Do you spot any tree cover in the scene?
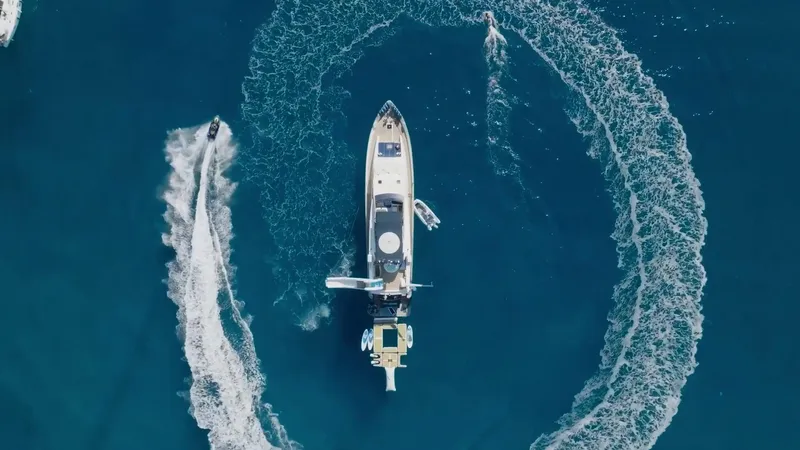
No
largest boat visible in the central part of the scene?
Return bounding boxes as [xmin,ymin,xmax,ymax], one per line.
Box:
[365,99,432,316]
